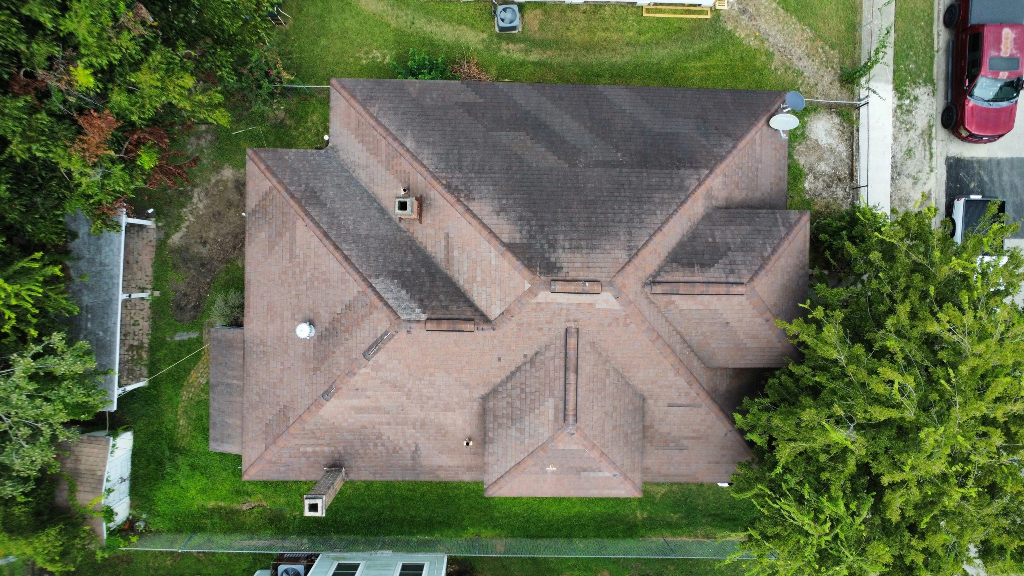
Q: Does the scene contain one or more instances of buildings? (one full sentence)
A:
Yes, the image includes a building.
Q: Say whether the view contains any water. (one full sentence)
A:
No, there's no water in this view.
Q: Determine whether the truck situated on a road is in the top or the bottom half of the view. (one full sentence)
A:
Seen from above, the truck situated on a road lies in the top half of the view.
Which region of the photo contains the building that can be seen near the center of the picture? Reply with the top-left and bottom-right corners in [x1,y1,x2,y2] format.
[209,78,811,516]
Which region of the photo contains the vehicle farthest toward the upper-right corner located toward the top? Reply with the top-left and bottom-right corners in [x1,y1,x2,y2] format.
[941,0,1024,145]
